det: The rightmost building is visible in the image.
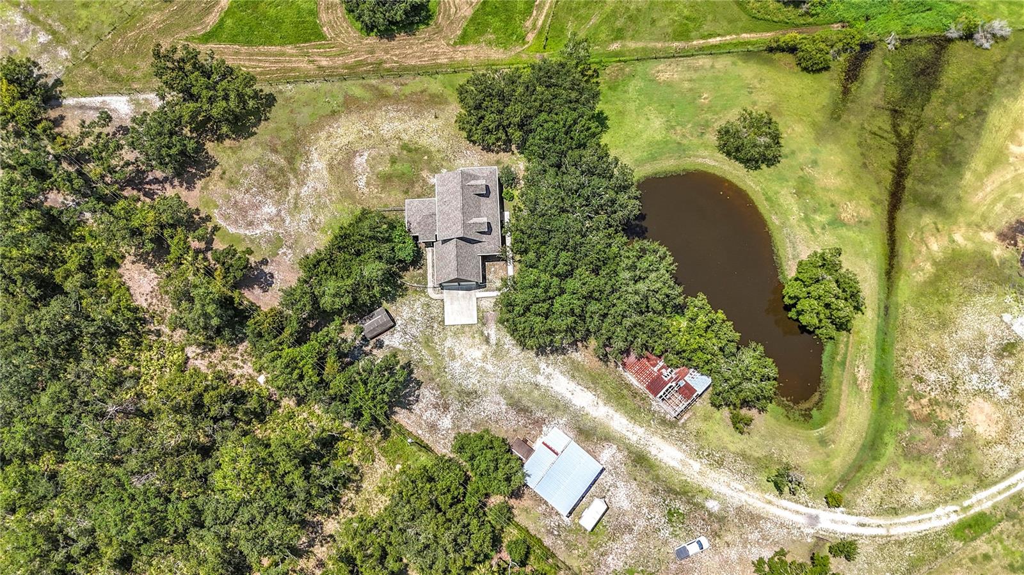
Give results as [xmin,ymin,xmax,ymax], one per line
[613,334,712,420]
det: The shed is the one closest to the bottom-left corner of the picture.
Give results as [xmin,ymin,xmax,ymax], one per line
[358,308,393,341]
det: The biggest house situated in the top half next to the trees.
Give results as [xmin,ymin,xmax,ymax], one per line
[405,163,502,289]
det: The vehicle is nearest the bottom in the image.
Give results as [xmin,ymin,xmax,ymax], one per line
[675,539,710,561]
